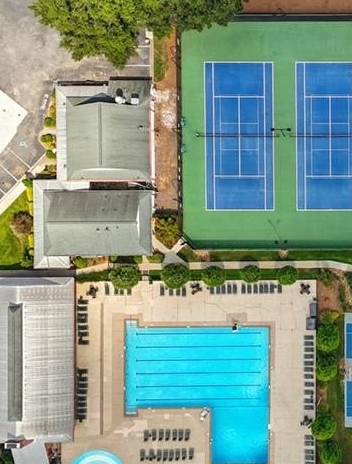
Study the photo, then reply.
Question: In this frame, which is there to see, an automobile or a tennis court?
tennis court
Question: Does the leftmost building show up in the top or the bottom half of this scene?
bottom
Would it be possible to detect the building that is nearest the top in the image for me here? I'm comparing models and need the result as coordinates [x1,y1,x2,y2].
[55,79,156,182]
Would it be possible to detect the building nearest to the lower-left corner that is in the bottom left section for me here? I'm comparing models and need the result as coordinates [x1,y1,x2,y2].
[0,277,79,464]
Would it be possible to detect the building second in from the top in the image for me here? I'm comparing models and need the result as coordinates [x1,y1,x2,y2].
[33,179,156,269]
